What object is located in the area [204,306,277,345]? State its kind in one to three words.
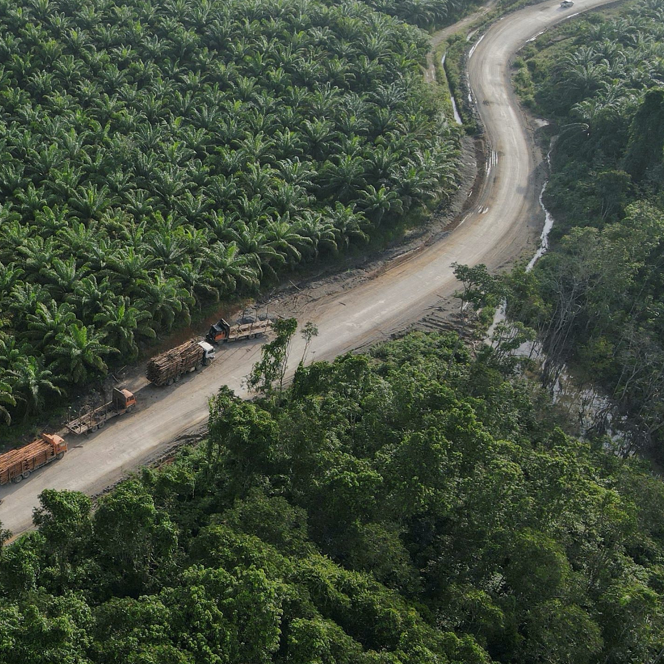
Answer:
truck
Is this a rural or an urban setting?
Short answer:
rural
